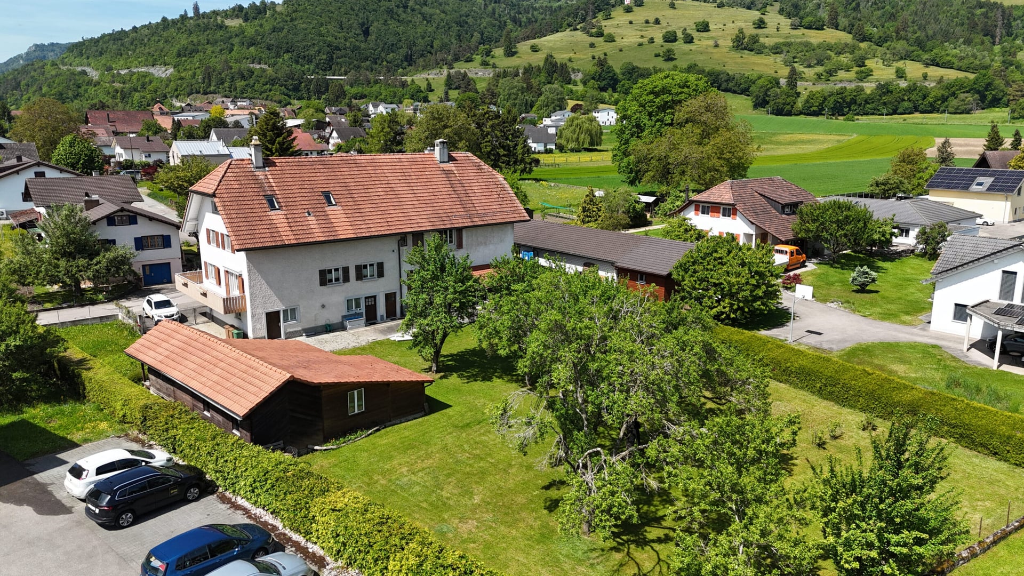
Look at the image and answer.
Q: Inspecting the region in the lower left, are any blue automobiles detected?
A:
Yes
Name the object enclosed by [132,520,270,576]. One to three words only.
car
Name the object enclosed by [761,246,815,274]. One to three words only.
truck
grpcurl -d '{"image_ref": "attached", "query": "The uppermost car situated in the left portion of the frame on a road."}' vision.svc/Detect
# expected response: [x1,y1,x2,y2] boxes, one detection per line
[147,290,178,320]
